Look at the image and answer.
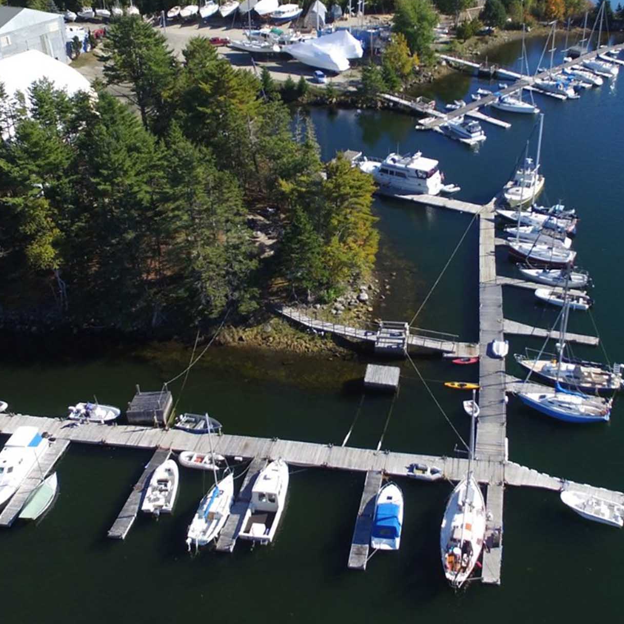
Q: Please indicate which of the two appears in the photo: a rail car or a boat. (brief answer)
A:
boat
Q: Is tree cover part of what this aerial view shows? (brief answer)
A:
Yes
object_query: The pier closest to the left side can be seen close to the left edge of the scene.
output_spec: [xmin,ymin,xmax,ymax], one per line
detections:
[0,440,70,529]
